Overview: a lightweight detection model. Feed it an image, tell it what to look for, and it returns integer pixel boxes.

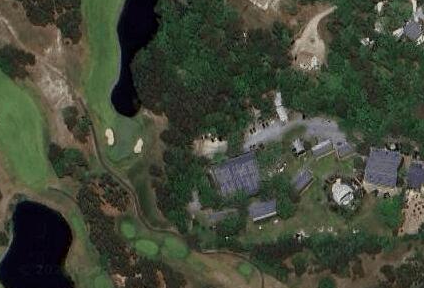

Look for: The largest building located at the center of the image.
[209,148,263,197]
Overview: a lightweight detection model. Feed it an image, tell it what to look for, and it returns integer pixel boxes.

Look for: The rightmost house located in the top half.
[393,0,424,44]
